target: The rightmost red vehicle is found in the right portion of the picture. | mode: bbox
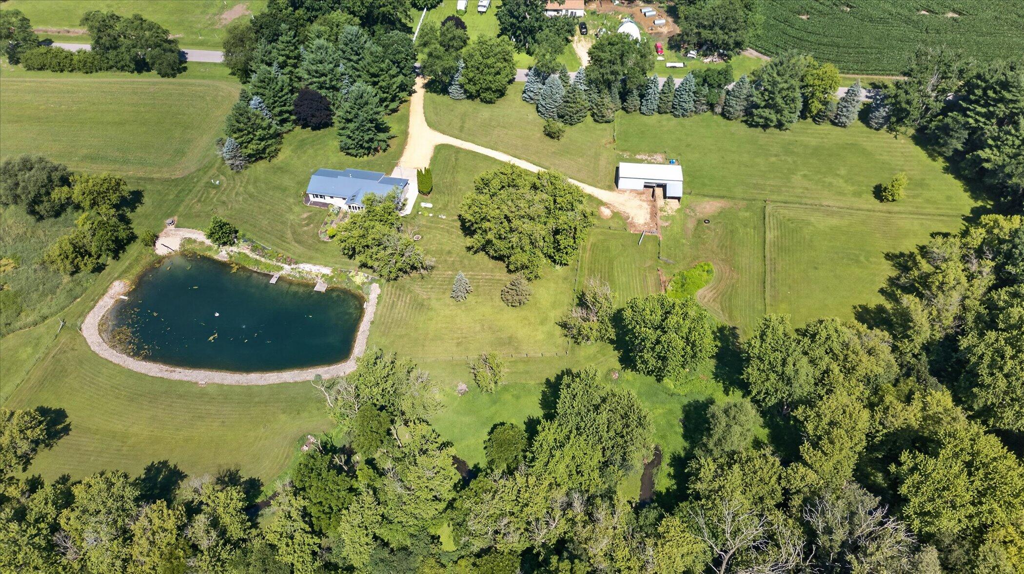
[652,42,668,56]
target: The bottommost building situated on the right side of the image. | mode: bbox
[617,162,683,206]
